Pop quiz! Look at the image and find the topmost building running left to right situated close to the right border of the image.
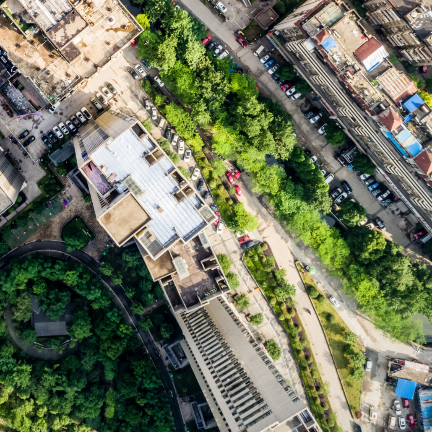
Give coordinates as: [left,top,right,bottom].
[382,355,432,383]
